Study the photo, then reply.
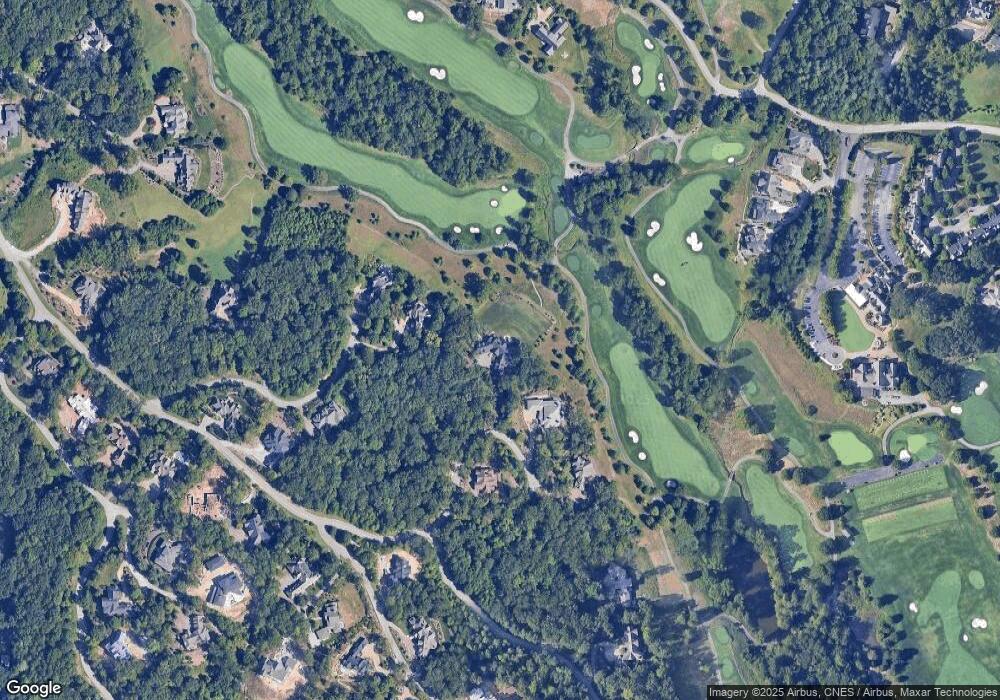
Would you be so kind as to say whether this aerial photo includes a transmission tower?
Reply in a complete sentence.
No, this view has no transmission tower in it.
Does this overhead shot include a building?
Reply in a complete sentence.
Yes, there's a building here.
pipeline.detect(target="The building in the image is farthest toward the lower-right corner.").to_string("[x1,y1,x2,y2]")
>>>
[855,360,901,391]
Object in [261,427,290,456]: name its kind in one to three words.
house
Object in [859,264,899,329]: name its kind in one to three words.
building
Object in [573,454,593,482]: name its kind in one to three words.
house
